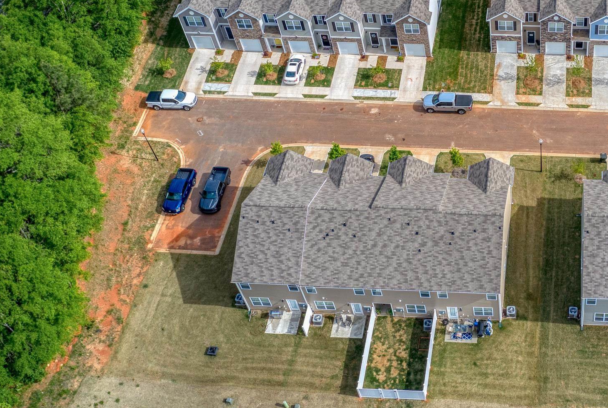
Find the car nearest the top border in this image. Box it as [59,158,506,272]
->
[283,55,305,86]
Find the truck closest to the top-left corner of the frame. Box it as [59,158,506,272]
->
[142,93,198,116]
